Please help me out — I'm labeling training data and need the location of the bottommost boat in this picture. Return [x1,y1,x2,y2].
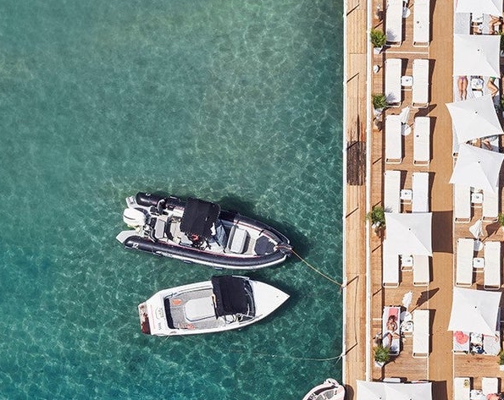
[141,271,290,336]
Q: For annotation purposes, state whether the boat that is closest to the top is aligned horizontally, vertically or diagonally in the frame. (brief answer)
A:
horizontally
